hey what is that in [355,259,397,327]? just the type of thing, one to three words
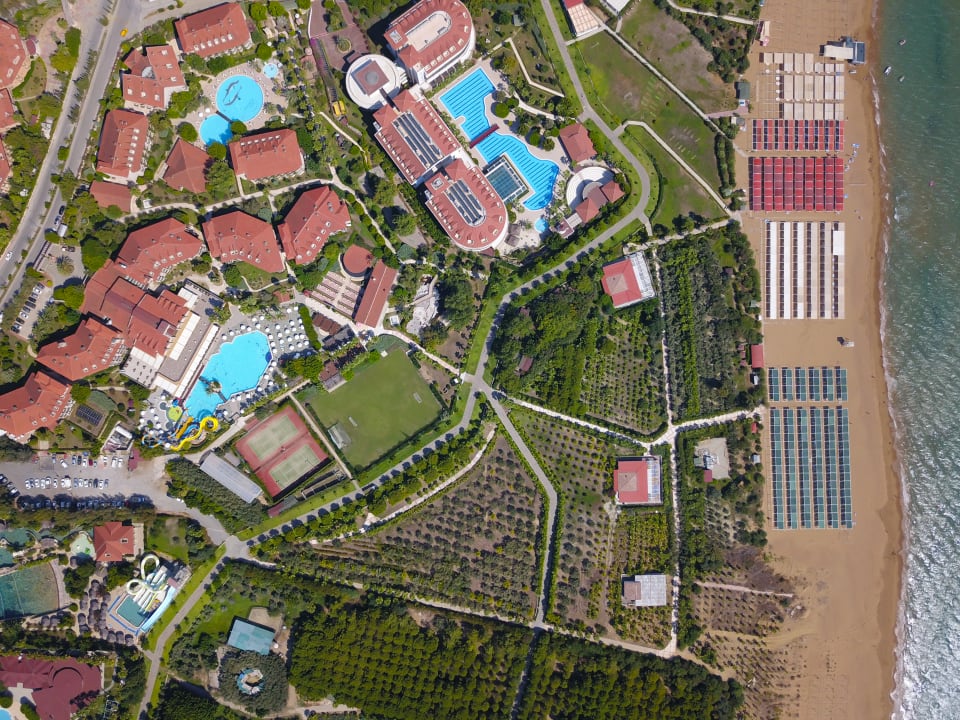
building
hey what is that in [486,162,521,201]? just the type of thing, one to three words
swimming pool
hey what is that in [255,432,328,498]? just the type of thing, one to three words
tennis court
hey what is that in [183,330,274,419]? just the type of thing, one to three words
swimming pool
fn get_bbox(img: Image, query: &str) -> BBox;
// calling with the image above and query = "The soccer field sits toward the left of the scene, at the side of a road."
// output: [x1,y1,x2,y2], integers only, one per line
[312,351,442,470]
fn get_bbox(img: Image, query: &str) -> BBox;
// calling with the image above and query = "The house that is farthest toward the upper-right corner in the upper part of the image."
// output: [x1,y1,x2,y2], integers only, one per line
[849,42,865,67]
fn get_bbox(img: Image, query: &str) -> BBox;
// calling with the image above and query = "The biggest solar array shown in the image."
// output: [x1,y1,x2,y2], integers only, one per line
[76,405,103,426]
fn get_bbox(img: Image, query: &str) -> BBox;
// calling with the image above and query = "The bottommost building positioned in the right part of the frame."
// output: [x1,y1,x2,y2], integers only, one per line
[622,572,667,607]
